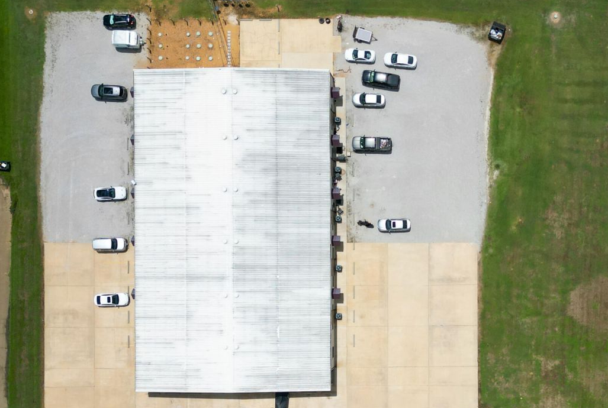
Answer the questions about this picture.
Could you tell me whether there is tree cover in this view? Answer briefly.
No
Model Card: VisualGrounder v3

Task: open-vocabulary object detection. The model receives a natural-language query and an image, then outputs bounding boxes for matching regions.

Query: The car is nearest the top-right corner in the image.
[385,52,416,69]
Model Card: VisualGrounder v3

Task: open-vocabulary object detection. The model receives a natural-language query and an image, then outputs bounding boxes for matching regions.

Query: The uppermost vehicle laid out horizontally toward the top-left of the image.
[103,13,135,29]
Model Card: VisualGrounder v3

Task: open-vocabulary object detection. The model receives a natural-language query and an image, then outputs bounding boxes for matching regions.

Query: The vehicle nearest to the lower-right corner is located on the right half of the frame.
[377,218,411,234]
